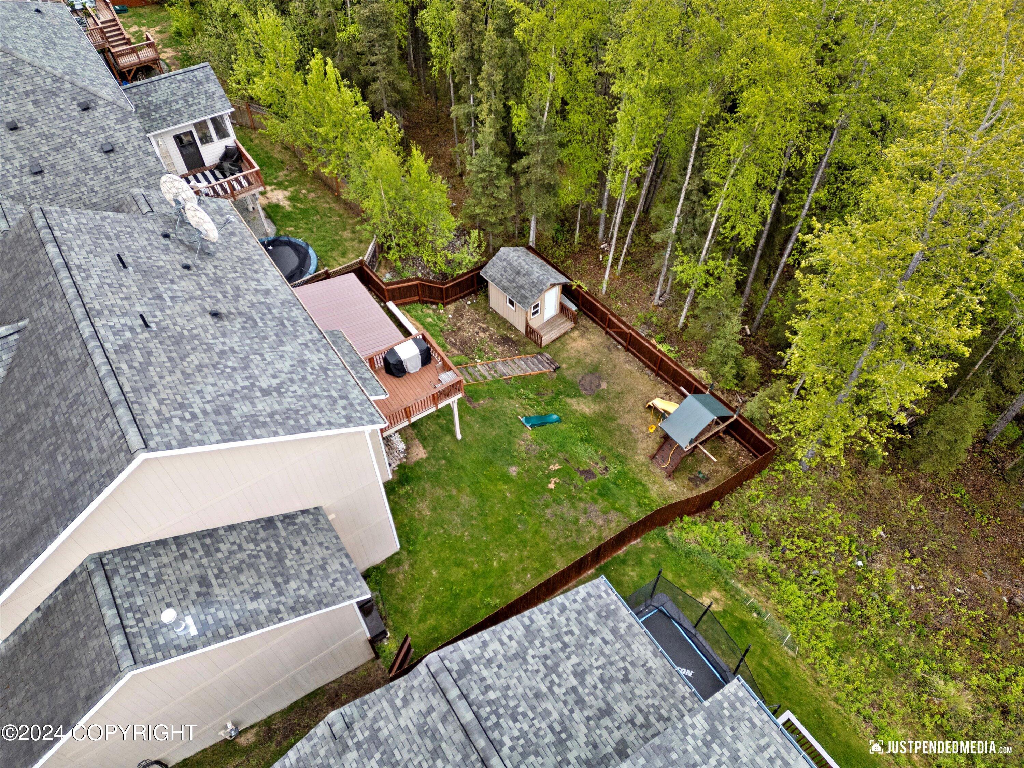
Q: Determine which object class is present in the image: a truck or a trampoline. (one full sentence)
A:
The one in the frame is a trampoline.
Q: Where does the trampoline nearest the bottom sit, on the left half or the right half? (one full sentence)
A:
The trampoline nearest the bottom appears in the right half of the scene.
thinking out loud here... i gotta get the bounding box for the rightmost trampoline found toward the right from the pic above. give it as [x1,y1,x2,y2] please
[622,565,803,714]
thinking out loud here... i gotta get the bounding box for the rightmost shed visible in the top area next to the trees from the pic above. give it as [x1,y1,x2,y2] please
[482,247,575,343]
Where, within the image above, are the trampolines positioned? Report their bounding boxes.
[622,565,803,714]
[266,237,316,280]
